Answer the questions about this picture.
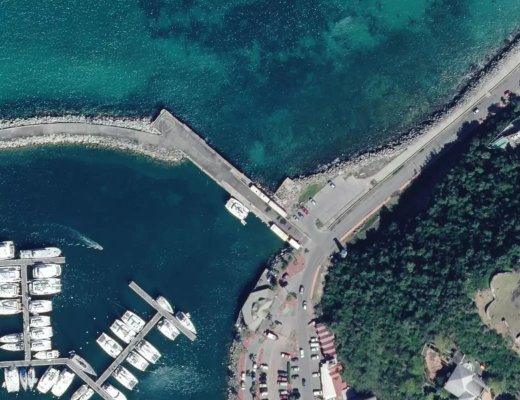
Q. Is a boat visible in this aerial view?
Yes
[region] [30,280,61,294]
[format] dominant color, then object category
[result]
white boat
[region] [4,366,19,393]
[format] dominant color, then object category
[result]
white boat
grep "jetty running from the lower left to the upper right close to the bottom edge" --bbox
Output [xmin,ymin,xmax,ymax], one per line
[95,312,163,386]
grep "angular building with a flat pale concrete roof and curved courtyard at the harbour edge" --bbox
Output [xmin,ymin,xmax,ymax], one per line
[241,288,276,331]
